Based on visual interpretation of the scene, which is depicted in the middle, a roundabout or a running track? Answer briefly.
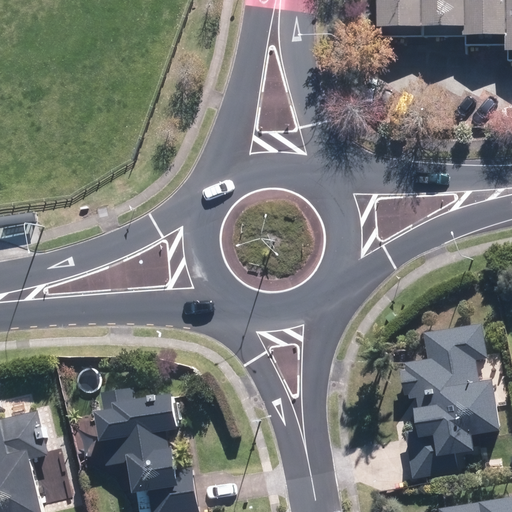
roundabout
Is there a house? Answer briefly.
Yes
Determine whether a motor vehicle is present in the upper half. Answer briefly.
Yes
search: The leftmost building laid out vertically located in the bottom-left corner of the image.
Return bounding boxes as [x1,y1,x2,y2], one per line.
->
[0,410,49,512]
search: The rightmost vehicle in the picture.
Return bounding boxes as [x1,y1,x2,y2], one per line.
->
[474,92,502,125]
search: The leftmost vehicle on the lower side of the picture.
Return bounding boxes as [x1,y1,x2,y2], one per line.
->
[183,301,215,317]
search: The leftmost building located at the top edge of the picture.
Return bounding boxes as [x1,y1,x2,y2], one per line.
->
[376,0,422,38]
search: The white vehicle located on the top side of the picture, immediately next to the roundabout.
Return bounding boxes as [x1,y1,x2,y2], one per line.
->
[201,179,237,200]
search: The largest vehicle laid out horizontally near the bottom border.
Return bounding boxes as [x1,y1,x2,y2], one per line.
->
[208,484,239,498]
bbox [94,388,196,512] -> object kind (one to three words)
house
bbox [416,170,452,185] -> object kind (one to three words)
vehicle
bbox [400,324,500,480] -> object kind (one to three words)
house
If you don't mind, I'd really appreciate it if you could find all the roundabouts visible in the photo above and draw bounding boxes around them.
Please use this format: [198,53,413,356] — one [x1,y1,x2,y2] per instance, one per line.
[220,188,325,292]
